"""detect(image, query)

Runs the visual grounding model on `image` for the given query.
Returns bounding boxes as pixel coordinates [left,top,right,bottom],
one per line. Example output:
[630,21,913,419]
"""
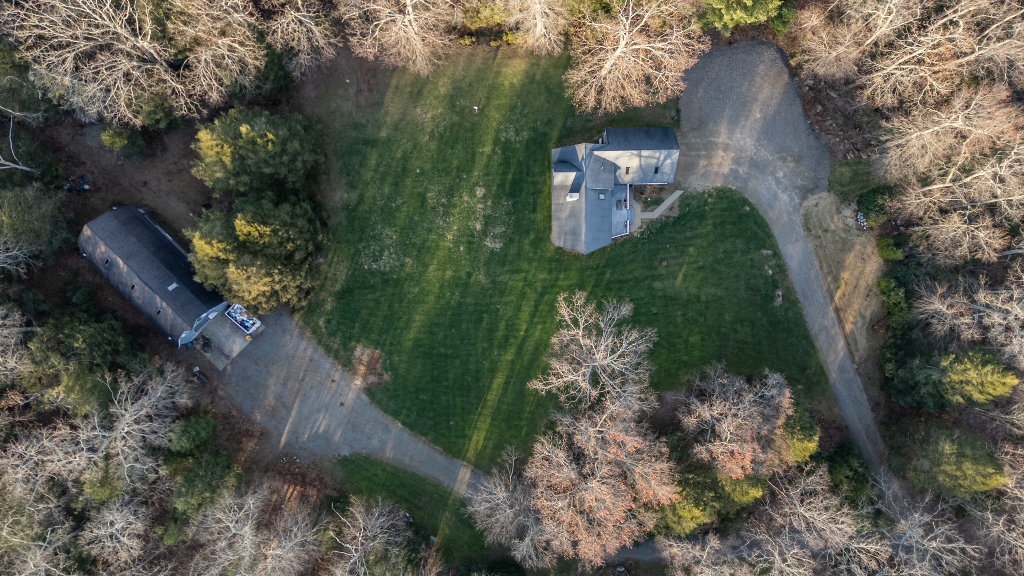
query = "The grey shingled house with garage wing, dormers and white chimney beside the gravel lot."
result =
[551,127,680,255]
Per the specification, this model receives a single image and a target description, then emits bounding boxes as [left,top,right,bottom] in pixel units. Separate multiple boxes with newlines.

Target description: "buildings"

[551,127,680,255]
[79,204,232,346]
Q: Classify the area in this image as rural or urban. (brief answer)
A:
rural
